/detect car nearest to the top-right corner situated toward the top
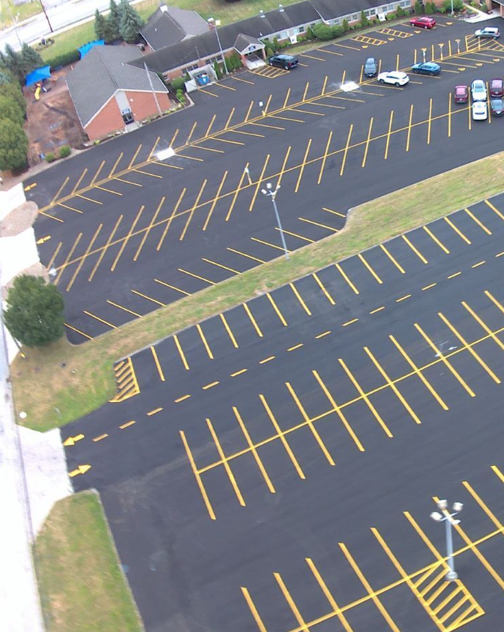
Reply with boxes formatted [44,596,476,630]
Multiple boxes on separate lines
[474,27,503,41]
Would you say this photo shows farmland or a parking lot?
parking lot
